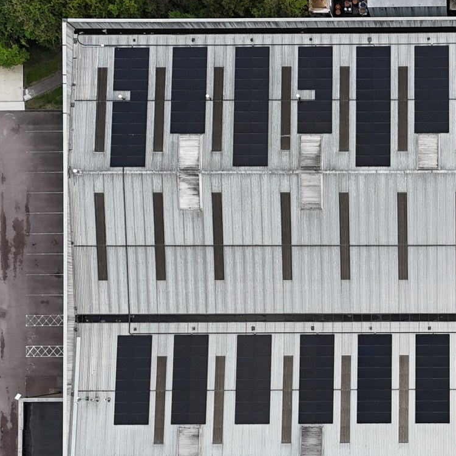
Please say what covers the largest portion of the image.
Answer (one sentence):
The bulk of the photo consists of buildings.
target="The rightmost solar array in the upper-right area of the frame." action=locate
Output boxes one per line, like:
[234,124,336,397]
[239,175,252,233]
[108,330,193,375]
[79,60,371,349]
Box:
[414,45,448,133]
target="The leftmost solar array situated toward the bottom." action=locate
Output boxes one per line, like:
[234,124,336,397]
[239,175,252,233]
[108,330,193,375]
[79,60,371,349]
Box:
[115,335,152,424]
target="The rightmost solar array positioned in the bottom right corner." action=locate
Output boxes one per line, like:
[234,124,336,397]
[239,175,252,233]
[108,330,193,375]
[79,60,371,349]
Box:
[415,334,449,423]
